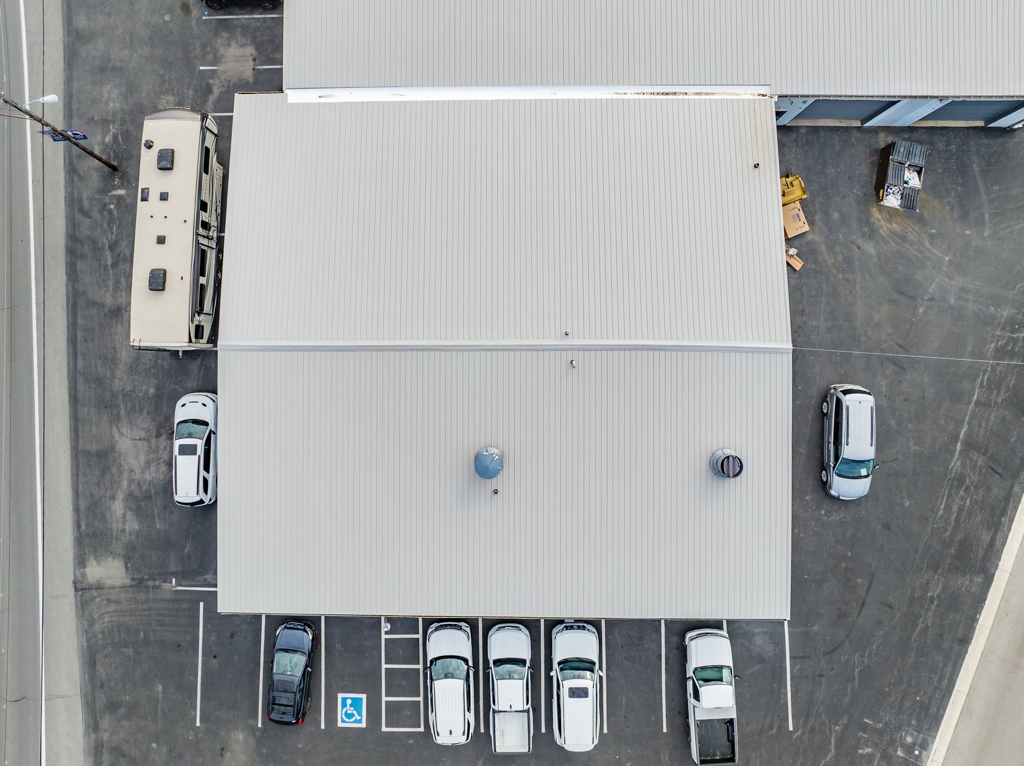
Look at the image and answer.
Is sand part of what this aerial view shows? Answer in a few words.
No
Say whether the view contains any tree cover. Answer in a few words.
No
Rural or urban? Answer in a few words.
urban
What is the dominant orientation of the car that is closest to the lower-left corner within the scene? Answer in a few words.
vertically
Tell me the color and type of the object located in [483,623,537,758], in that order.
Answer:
white truck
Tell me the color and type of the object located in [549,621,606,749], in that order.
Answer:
white car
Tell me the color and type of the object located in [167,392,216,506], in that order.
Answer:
white car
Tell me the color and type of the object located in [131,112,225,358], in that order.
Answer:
white trailer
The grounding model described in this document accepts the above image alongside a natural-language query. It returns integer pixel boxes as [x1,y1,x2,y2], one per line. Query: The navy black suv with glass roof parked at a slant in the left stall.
[263,619,317,726]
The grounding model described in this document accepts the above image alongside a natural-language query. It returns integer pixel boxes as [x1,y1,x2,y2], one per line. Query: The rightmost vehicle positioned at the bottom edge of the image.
[684,627,739,766]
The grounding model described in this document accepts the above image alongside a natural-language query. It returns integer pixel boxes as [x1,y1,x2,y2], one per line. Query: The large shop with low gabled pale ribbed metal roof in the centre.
[215,85,794,618]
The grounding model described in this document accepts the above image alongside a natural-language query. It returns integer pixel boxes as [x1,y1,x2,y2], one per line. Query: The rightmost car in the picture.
[824,385,880,498]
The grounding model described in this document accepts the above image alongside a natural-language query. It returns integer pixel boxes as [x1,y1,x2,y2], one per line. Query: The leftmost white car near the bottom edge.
[421,623,478,746]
